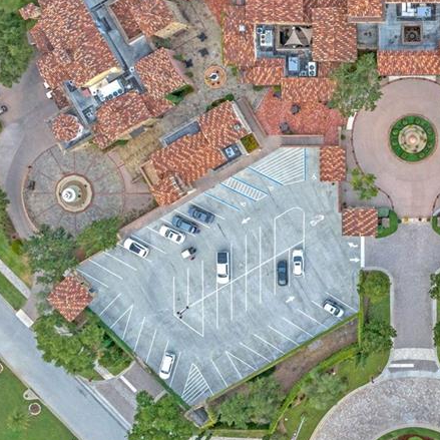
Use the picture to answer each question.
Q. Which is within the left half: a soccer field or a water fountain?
water fountain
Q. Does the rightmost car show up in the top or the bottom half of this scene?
bottom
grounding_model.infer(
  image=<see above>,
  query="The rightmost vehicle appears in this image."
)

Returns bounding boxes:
[319,297,345,320]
